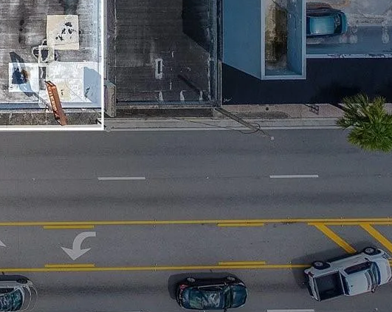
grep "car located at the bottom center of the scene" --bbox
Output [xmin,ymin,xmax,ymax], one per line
[171,273,243,312]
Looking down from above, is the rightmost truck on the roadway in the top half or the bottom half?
bottom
